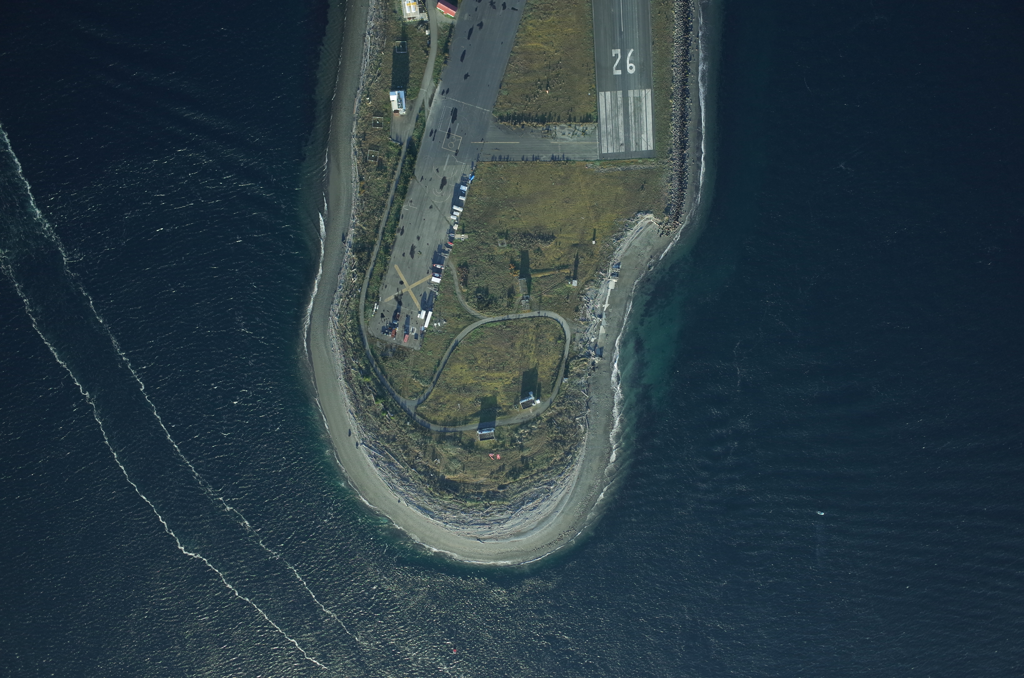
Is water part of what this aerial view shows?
Yes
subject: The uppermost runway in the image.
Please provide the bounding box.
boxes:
[592,0,656,160]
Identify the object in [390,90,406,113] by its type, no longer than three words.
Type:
building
